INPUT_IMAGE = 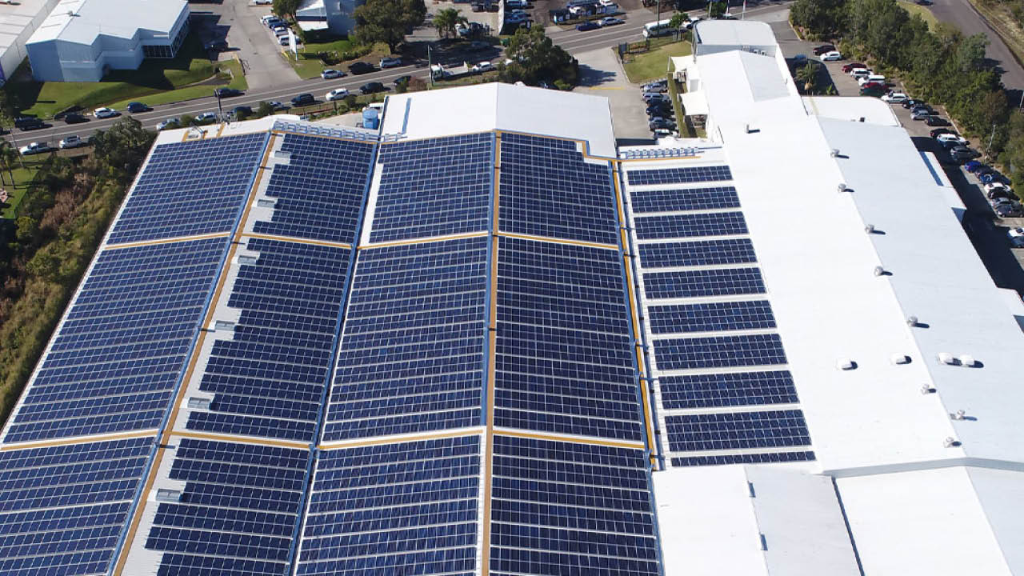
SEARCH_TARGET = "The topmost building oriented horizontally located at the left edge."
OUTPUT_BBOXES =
[23,0,210,77]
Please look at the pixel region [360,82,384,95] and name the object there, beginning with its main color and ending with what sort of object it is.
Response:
black vehicle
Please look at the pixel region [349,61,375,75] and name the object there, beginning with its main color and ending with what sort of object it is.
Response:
black car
